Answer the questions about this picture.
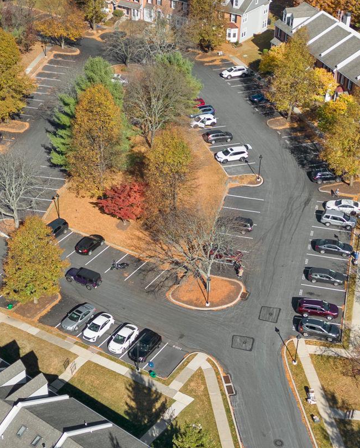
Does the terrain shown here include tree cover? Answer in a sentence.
Yes, tree cover can be seen from above here.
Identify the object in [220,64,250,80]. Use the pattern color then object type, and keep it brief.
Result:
white car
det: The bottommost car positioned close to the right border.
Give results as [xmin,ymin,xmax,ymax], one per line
[296,314,345,341]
